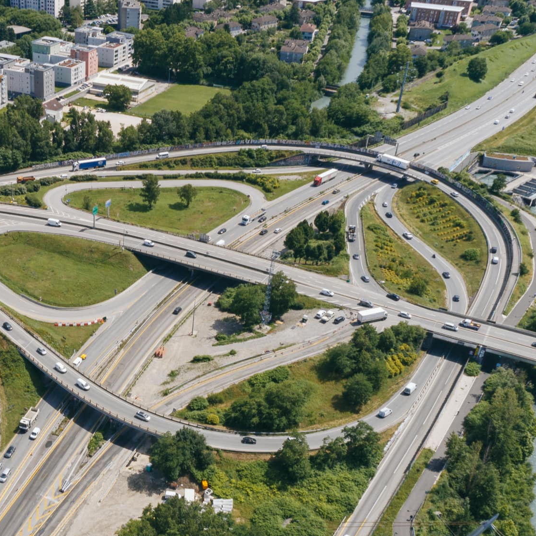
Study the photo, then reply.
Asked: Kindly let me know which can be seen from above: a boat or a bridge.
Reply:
bridge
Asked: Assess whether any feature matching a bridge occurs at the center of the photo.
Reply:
Yes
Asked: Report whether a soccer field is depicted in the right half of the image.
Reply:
No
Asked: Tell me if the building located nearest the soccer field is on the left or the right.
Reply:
left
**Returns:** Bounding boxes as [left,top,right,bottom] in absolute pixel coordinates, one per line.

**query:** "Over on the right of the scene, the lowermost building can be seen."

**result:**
[481,154,534,173]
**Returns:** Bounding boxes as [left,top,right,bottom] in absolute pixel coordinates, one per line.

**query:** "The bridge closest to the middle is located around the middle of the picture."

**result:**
[172,229,281,285]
